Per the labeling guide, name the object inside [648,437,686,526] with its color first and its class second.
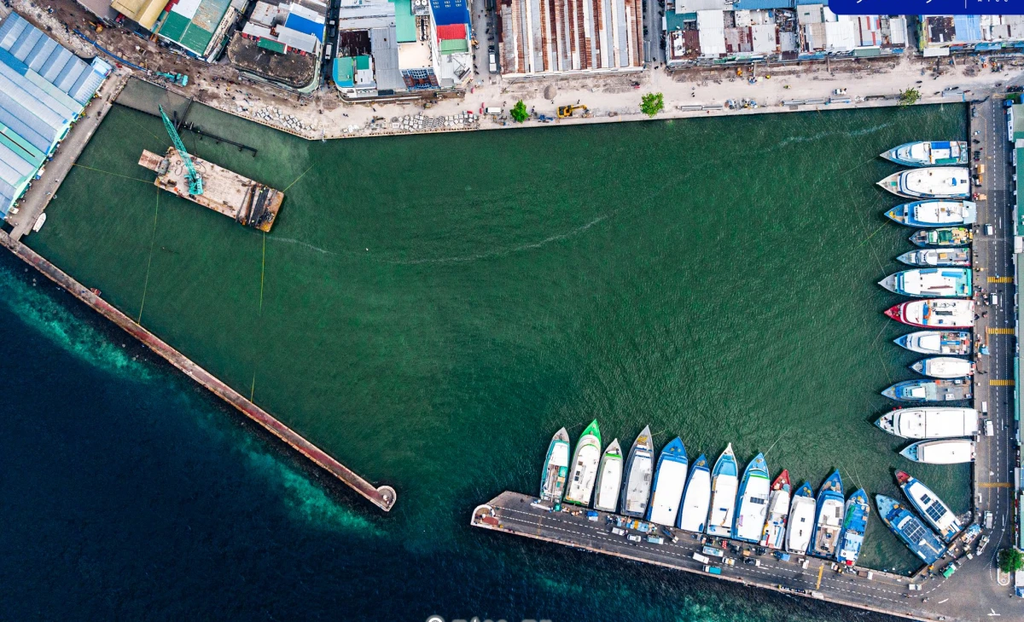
white boat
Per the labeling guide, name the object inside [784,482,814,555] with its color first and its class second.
white boat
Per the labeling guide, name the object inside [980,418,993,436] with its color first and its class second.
white vehicle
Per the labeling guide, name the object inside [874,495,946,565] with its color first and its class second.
blue boat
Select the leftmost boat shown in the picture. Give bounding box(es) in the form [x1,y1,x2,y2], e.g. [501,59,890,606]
[32,213,45,232]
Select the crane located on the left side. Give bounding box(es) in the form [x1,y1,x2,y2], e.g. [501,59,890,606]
[157,104,207,201]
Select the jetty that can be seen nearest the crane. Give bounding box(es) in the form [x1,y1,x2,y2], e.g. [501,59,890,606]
[181,121,258,157]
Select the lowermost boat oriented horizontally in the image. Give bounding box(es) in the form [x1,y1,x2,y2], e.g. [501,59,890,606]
[897,439,976,464]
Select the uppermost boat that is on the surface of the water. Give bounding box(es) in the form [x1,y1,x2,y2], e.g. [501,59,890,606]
[879,141,969,166]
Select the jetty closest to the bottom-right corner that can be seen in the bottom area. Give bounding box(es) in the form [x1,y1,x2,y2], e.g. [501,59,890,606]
[471,490,945,622]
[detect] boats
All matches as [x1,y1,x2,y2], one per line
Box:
[564,419,600,508]
[733,453,768,542]
[648,437,686,526]
[897,439,976,464]
[807,470,843,559]
[907,357,975,378]
[880,379,972,402]
[897,248,972,267]
[878,267,973,297]
[541,428,569,502]
[884,299,975,328]
[594,439,621,512]
[875,168,971,198]
[707,443,737,538]
[834,488,867,566]
[883,200,977,227]
[874,495,946,565]
[873,406,979,439]
[892,470,963,543]
[907,228,973,246]
[32,213,45,232]
[678,455,710,532]
[879,141,969,166]
[892,330,971,354]
[622,425,654,517]
[784,482,814,555]
[760,470,790,549]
